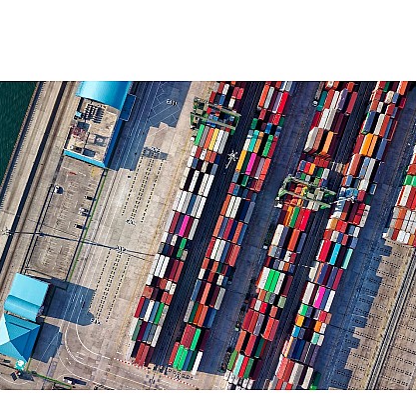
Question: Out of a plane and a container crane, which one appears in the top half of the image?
container crane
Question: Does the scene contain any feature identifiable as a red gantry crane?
No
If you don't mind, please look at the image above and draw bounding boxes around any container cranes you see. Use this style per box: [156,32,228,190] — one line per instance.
[275,173,338,214]
[187,94,244,143]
